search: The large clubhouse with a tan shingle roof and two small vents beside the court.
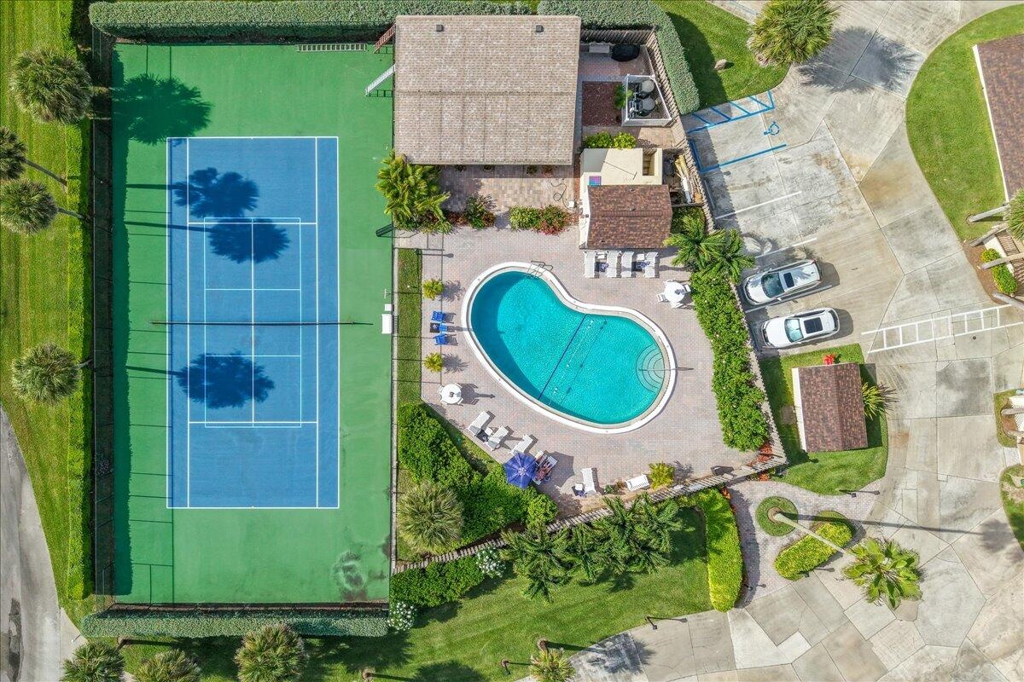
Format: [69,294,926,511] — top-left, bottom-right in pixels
[394,12,580,166]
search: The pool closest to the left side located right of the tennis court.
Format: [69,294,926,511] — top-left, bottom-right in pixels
[461,261,677,433]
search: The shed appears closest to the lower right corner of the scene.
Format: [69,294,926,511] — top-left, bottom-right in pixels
[785,361,868,454]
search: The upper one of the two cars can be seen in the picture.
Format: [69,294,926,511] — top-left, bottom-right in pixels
[741,258,822,304]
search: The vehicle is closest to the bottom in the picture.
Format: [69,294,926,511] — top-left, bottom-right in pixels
[758,308,841,347]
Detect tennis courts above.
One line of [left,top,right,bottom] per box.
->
[113,43,392,603]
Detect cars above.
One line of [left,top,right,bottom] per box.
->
[741,258,822,304]
[758,308,841,347]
